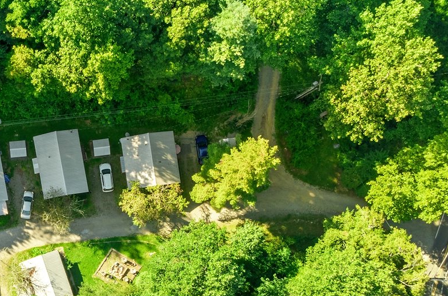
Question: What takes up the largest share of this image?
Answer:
trees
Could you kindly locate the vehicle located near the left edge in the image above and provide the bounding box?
[20,191,34,220]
